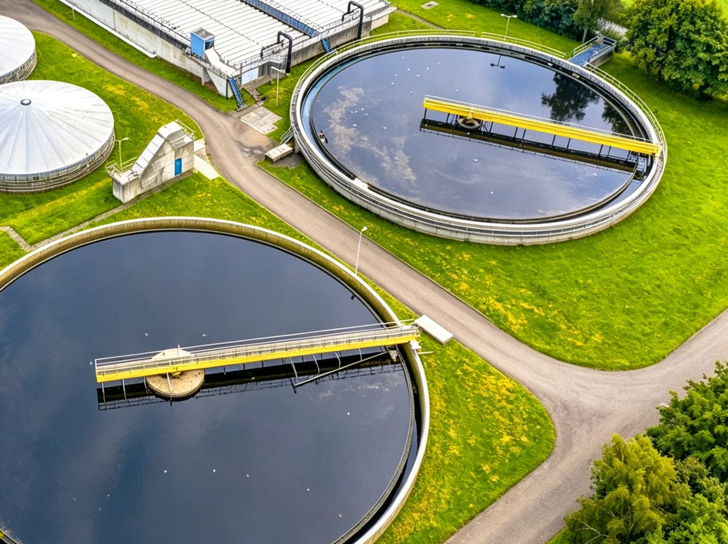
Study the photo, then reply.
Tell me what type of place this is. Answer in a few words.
industrial area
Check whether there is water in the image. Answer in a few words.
Yes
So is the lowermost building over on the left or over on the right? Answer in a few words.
left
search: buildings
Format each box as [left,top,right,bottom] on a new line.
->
[67,0,405,99]
[107,118,195,203]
